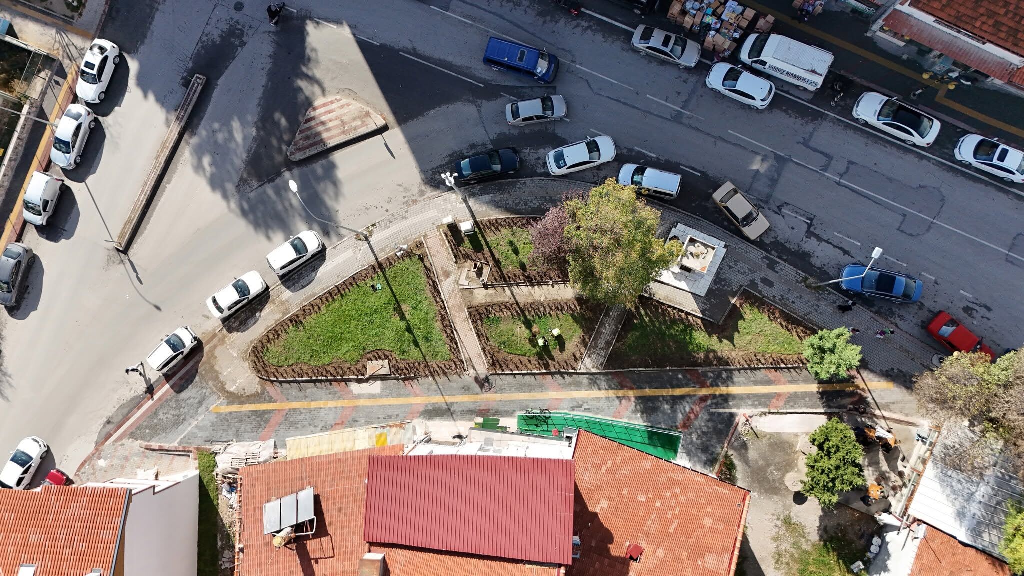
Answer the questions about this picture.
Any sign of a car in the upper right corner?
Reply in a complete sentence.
Yes, looking in the upper right corner, one can make out a car.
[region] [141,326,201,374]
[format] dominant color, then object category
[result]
white car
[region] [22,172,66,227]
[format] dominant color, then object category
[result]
white car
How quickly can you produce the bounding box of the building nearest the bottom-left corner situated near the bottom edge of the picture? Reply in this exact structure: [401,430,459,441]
[0,470,198,576]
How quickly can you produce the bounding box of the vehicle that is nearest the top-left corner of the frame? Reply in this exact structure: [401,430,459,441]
[77,39,122,104]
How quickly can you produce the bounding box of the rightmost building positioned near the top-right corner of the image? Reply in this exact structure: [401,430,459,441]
[881,0,1024,85]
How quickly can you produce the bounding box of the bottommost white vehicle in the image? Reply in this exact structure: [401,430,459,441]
[0,437,51,488]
